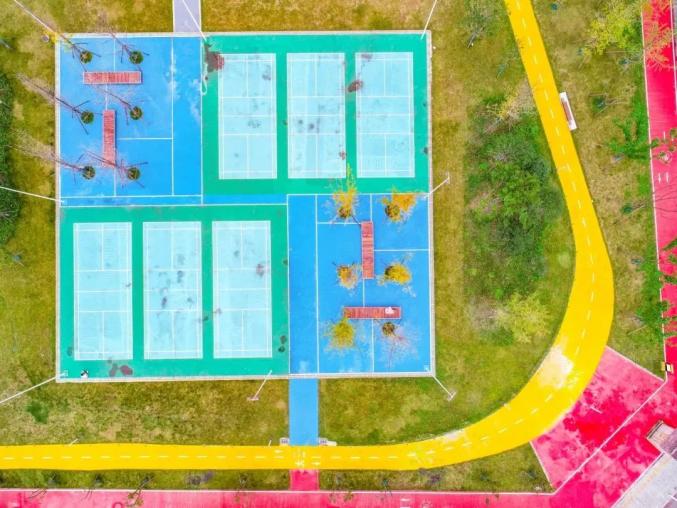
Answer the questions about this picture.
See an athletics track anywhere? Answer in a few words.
No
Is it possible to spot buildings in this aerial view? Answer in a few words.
No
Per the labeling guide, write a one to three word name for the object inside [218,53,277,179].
sports court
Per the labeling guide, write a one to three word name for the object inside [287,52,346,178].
sports court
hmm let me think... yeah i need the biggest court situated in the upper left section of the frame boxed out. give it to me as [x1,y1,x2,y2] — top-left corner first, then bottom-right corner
[58,34,288,206]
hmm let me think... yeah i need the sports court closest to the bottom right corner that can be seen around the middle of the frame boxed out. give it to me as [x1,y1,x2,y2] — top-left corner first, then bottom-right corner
[288,193,432,376]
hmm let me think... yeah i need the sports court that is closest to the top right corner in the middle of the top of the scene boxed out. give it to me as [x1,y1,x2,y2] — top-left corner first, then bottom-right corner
[355,52,415,177]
